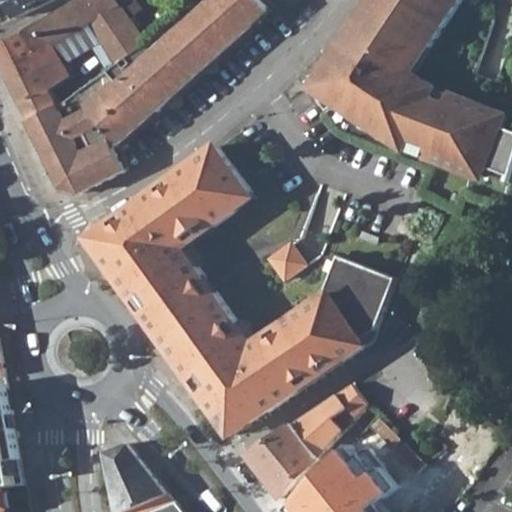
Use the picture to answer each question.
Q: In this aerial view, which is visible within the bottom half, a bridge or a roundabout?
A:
roundabout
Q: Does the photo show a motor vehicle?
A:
Yes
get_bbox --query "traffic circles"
[46,318,110,384]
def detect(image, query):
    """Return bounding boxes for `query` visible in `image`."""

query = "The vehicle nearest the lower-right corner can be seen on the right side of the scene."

[396,404,415,416]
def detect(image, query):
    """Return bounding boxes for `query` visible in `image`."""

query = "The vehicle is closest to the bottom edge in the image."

[199,487,227,512]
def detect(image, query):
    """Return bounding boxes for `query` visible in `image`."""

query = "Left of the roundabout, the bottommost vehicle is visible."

[27,334,40,356]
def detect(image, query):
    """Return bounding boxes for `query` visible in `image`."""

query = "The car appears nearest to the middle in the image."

[284,176,302,192]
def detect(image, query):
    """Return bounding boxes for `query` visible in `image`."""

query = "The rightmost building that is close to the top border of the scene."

[304,0,508,182]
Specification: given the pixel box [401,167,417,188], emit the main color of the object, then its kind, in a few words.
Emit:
white car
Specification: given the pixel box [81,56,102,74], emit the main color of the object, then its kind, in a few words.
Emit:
white vehicle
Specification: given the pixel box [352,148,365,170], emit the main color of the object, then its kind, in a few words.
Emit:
white vehicle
